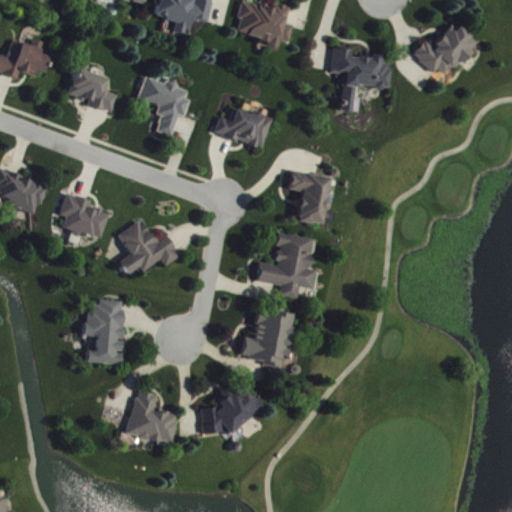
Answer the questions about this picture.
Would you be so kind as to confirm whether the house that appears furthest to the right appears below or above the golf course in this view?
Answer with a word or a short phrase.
above it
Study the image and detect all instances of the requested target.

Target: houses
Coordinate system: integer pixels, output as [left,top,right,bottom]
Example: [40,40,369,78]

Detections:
[240,314,296,368]
[237,0,293,50]
[256,233,318,296]
[64,68,118,112]
[58,192,112,239]
[116,218,179,276]
[326,46,394,111]
[212,106,272,148]
[410,24,480,74]
[138,75,191,133]
[0,170,48,214]
[195,392,262,437]
[126,391,180,446]
[280,170,335,225]
[151,0,208,33]
[0,39,52,82]
[86,297,126,364]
